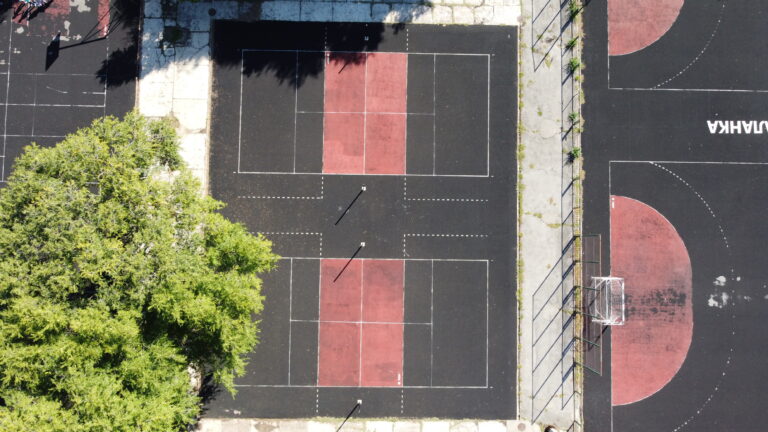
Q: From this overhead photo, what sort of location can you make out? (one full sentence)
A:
This looks like a sports ground.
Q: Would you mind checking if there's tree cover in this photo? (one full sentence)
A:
Yes, the picture does contain tree cover.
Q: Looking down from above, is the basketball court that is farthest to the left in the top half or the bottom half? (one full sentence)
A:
You can find the basketball court that is farthest to the left in the top half.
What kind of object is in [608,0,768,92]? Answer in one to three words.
sports court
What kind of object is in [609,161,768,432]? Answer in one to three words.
sports court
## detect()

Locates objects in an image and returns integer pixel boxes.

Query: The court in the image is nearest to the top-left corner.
[0,0,110,106]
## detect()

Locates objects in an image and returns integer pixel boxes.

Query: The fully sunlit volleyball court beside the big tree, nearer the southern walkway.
[228,232,493,412]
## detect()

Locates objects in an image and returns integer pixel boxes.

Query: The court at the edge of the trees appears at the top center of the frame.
[234,28,493,200]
